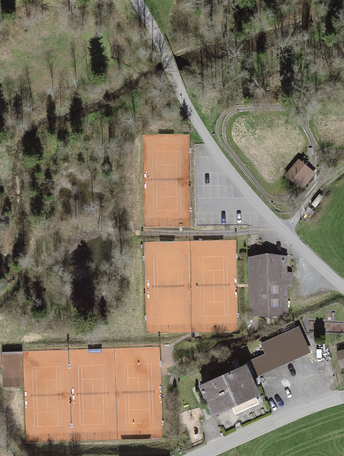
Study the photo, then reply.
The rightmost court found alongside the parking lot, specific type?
tennis court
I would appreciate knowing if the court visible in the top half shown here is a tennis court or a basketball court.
tennis court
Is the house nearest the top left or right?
right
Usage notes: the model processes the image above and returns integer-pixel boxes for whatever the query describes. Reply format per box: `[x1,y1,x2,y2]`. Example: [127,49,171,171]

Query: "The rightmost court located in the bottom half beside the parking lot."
[190,240,238,332]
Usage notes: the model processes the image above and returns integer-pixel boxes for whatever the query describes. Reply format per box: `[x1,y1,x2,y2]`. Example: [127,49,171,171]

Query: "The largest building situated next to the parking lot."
[248,254,292,317]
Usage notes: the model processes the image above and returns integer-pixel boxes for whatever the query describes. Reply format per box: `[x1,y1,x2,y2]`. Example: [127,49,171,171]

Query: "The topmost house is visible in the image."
[286,159,316,188]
